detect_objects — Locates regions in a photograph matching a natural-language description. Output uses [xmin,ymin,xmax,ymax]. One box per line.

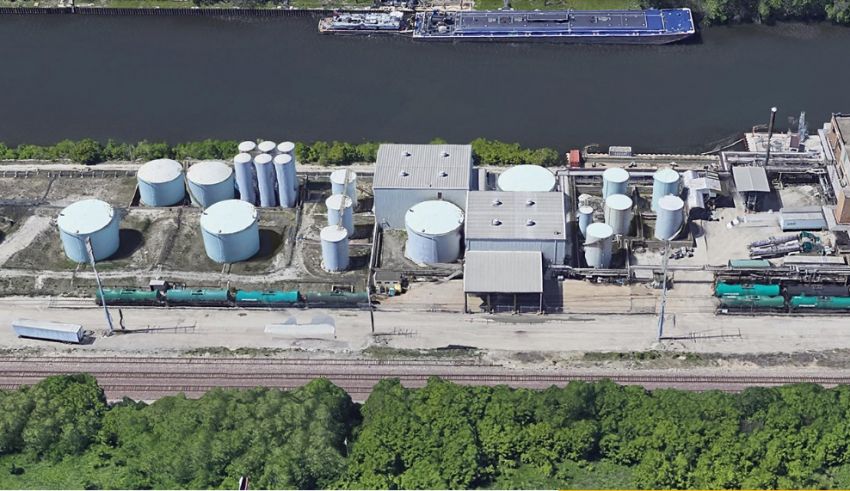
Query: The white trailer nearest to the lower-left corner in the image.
[14,318,83,343]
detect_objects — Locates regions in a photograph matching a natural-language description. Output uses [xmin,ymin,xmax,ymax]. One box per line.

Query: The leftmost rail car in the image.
[90,284,163,305]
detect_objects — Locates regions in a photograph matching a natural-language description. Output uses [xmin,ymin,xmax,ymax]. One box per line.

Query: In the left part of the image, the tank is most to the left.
[56,200,122,266]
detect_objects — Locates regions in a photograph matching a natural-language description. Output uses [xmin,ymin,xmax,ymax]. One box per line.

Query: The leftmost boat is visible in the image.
[321,3,405,35]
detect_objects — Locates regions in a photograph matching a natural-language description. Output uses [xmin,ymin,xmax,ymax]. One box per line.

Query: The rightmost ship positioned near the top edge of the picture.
[412,9,695,43]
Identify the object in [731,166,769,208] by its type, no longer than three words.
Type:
shed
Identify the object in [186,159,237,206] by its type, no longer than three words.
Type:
storage tank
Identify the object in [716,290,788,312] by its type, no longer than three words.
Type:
rail car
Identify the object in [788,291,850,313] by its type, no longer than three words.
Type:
rail car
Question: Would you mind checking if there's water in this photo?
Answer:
Yes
